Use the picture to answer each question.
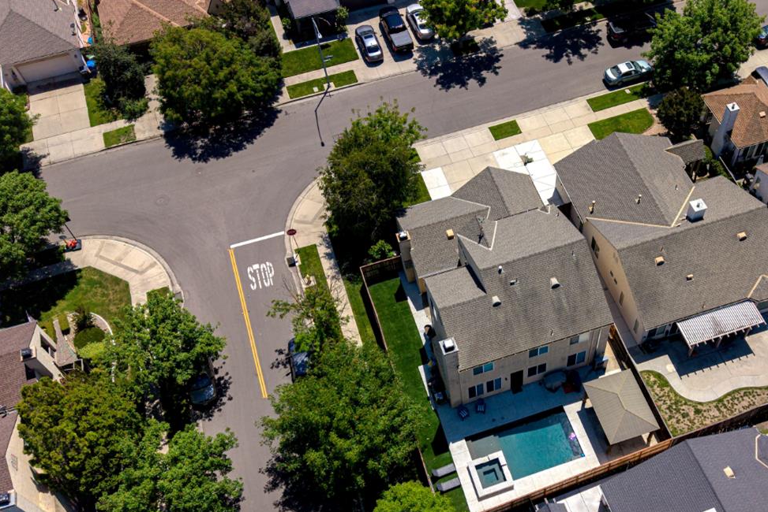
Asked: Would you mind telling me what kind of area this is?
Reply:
residential area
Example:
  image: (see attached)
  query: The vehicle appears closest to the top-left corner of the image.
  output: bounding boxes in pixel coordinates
[355,27,383,59]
